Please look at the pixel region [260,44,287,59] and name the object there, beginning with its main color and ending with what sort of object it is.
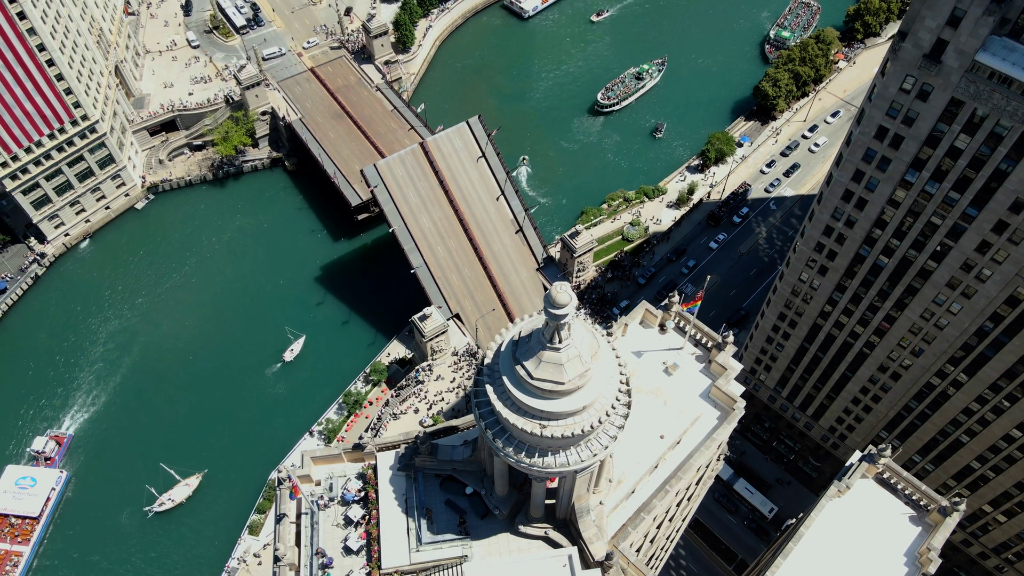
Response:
white vehicle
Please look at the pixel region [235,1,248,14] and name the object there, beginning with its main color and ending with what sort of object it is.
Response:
white vehicle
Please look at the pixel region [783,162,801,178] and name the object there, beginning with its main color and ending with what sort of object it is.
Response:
black car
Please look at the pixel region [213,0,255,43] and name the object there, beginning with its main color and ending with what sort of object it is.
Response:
white bus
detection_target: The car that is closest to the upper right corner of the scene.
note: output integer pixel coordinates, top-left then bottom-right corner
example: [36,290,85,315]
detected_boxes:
[824,108,842,124]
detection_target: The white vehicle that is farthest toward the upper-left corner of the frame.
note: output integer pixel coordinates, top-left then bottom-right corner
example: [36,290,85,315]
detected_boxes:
[185,30,199,47]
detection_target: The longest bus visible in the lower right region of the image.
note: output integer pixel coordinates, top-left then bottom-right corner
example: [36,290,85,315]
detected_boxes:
[710,459,780,528]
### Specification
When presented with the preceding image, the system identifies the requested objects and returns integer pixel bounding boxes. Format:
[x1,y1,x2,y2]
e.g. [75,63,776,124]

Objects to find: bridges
[276,52,557,356]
